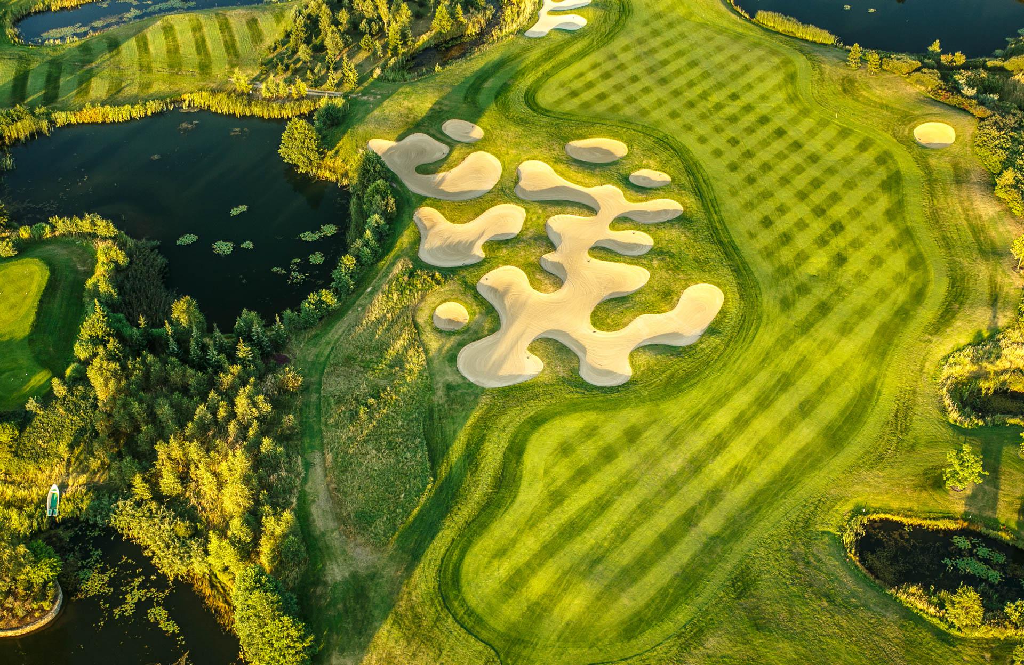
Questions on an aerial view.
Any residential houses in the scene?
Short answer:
No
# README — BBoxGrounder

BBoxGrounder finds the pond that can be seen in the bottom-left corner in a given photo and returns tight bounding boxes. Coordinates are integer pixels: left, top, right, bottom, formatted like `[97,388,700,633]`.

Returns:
[0,524,239,665]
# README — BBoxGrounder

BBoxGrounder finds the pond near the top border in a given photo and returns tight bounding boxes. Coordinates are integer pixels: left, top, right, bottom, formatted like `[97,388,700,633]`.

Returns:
[14,0,285,45]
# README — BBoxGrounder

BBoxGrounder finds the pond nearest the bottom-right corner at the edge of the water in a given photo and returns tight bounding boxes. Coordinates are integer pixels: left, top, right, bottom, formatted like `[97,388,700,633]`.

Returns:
[855,518,1024,619]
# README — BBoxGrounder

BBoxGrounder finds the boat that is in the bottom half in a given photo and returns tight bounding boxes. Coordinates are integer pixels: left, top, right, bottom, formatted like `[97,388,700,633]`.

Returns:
[45,484,59,518]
